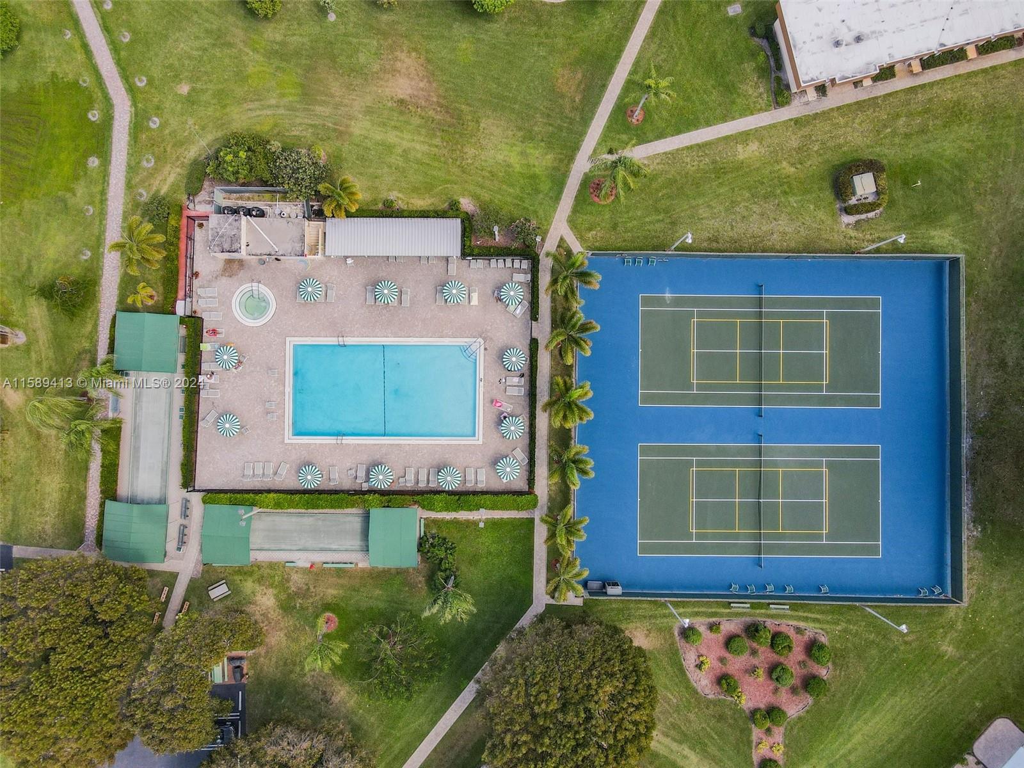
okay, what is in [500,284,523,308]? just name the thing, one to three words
umbrella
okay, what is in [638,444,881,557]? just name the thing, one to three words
tennis court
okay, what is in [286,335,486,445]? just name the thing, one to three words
swimming pool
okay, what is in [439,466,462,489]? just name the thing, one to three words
umbrella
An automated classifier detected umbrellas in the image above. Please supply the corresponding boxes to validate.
[218,346,241,369]
[496,456,520,479]
[219,414,243,438]
[301,464,325,487]
[503,348,526,371]
[375,282,399,306]
[301,279,325,303]
[439,466,462,489]
[370,465,393,488]
[500,284,523,308]
[443,281,467,304]
[500,416,524,439]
